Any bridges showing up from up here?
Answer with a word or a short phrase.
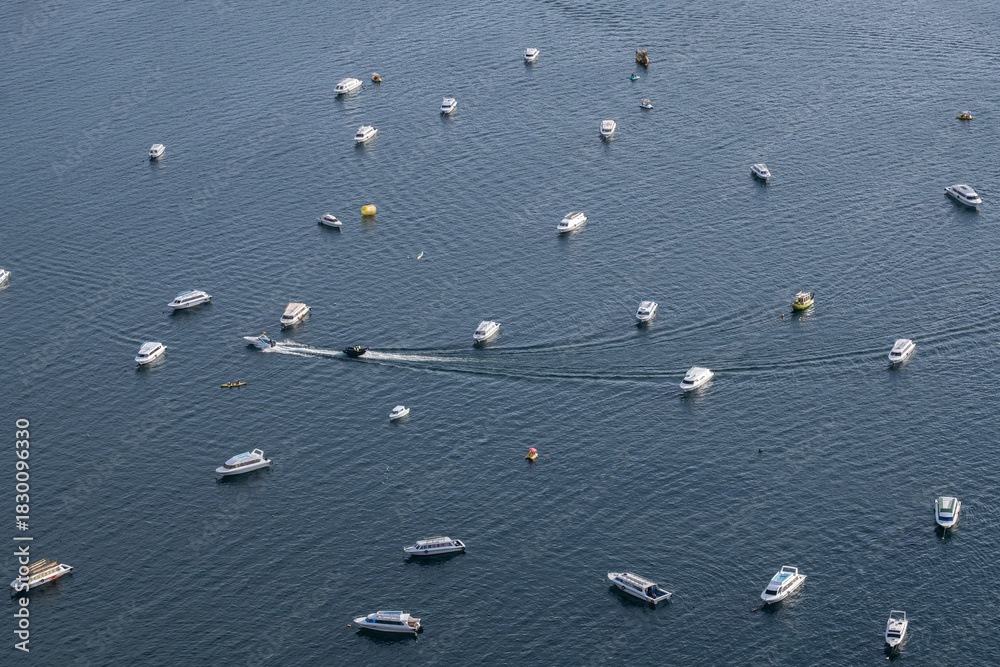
No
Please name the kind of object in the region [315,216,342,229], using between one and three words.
boat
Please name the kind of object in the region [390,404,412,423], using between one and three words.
boat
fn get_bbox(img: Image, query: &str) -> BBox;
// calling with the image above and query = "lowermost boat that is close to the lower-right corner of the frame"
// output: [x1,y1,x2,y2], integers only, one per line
[885,611,907,662]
